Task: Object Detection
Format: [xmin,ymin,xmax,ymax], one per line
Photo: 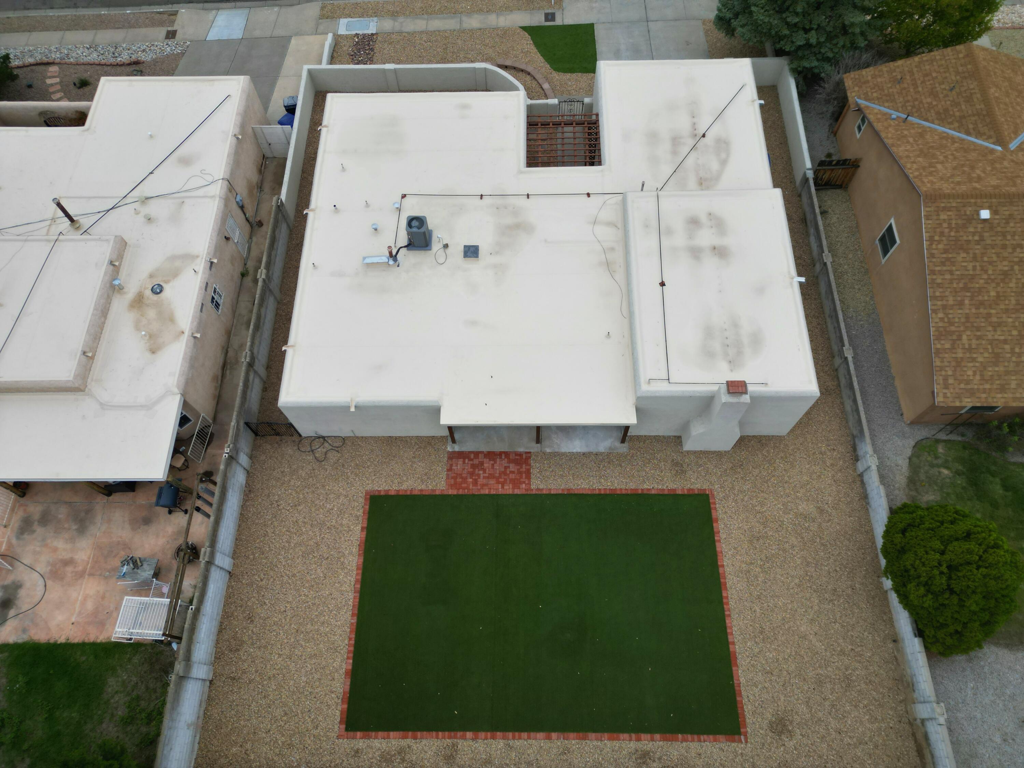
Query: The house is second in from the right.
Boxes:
[278,58,820,450]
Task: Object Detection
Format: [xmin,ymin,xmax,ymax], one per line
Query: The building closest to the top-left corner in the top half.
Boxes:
[0,78,271,499]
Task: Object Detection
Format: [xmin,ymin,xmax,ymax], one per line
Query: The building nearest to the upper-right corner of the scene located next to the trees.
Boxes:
[832,42,1024,425]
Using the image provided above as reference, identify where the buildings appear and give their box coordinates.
[0,78,271,499]
[278,58,820,450]
[832,42,1024,425]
